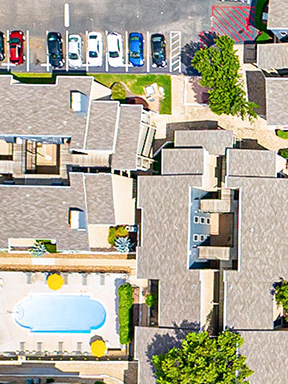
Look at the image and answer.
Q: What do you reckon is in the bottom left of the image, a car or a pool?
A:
pool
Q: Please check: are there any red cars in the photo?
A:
Yes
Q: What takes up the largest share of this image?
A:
buildings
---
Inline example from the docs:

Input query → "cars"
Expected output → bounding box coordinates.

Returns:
[150,32,168,68]
[46,32,66,68]
[0,30,7,61]
[106,31,125,67]
[127,31,146,67]
[6,30,27,65]
[85,31,105,67]
[66,33,85,69]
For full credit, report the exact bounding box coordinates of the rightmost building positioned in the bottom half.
[134,130,288,384]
